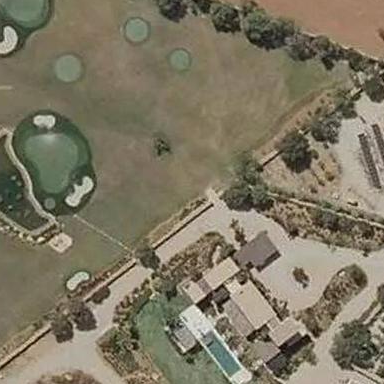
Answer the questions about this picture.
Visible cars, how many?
none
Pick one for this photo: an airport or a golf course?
golf course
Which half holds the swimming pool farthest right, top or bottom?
bottom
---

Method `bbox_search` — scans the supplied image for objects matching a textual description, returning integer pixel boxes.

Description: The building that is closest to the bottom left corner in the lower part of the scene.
[167,326,198,353]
